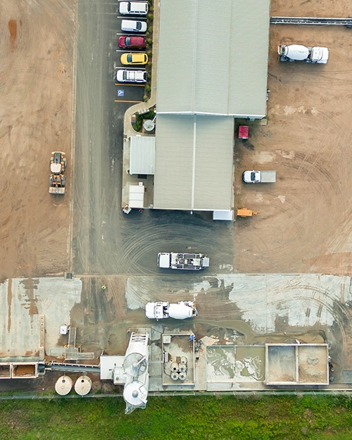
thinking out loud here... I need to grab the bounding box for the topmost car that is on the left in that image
[119,0,148,14]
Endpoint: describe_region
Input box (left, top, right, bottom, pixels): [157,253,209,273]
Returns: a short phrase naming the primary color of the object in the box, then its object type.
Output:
white vehicle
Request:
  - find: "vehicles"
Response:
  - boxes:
[147,302,199,324]
[242,172,277,185]
[120,52,147,66]
[121,19,147,32]
[116,69,147,84]
[157,253,209,273]
[47,153,65,195]
[118,36,146,50]
[119,0,148,14]
[277,44,330,64]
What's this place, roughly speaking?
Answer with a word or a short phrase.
industrial area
